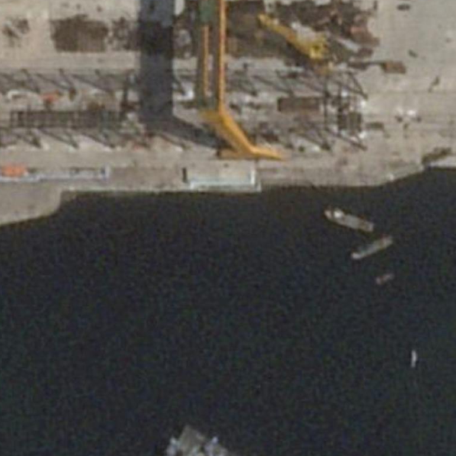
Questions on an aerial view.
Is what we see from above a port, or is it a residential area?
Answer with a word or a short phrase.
port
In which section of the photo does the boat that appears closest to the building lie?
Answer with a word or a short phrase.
right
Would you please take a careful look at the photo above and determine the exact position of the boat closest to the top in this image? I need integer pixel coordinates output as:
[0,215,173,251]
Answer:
[325,211,376,236]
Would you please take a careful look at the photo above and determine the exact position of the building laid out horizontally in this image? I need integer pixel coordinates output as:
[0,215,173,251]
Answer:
[186,167,256,187]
